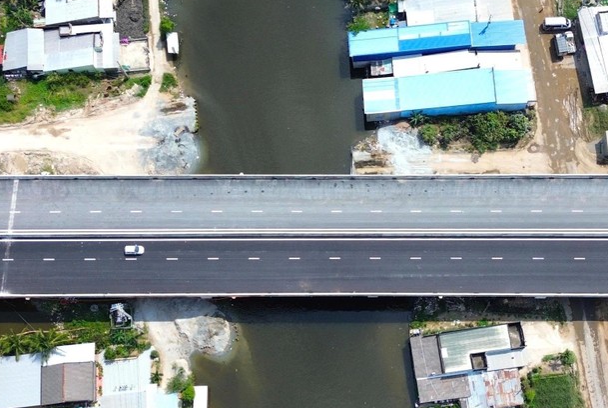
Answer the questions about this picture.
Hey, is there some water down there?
Yes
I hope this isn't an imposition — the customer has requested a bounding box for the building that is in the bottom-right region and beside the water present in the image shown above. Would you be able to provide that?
[410,325,526,408]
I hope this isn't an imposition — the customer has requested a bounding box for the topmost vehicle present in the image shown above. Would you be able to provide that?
[542,19,569,31]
